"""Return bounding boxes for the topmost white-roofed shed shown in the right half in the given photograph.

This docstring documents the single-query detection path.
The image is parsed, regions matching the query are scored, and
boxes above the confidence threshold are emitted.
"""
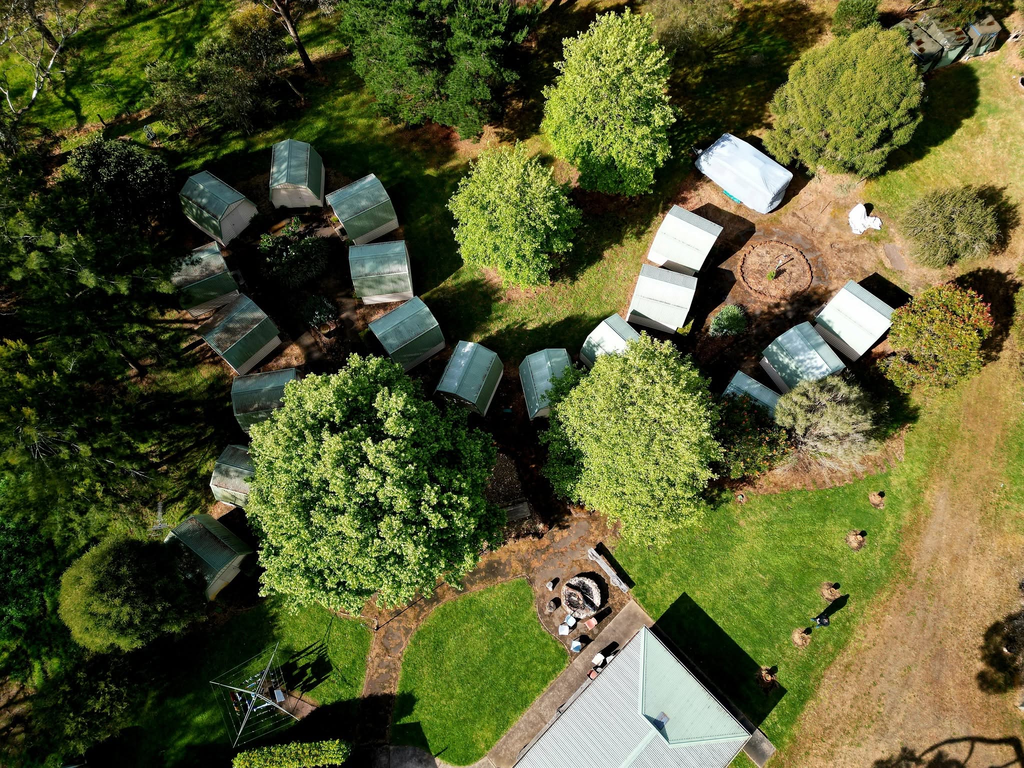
[650,204,723,276]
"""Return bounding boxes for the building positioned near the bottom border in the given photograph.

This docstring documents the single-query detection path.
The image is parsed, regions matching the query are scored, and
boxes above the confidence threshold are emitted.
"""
[508,621,755,768]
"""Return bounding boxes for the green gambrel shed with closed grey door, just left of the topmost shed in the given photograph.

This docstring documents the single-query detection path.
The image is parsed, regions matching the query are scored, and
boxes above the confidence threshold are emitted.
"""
[179,170,260,246]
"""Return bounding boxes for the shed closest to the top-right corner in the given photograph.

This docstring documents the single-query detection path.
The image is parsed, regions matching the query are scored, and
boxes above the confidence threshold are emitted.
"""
[811,279,900,359]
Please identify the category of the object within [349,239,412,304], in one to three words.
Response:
shed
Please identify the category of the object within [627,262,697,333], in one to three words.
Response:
shed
